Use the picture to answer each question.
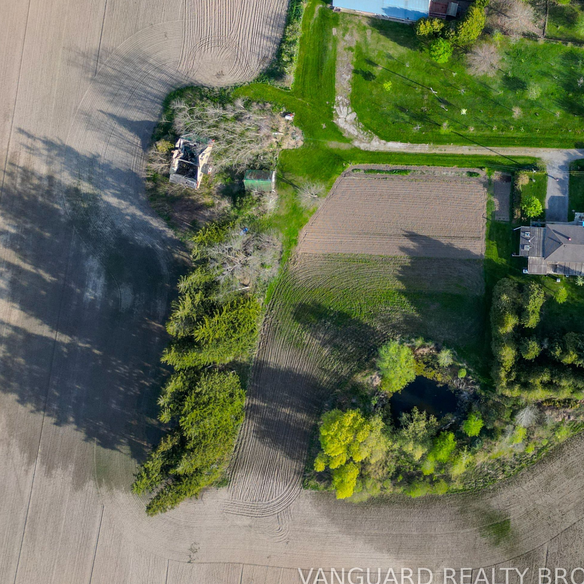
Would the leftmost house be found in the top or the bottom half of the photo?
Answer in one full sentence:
The leftmost house is in the top half of the image.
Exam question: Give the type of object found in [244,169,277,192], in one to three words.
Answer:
shed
